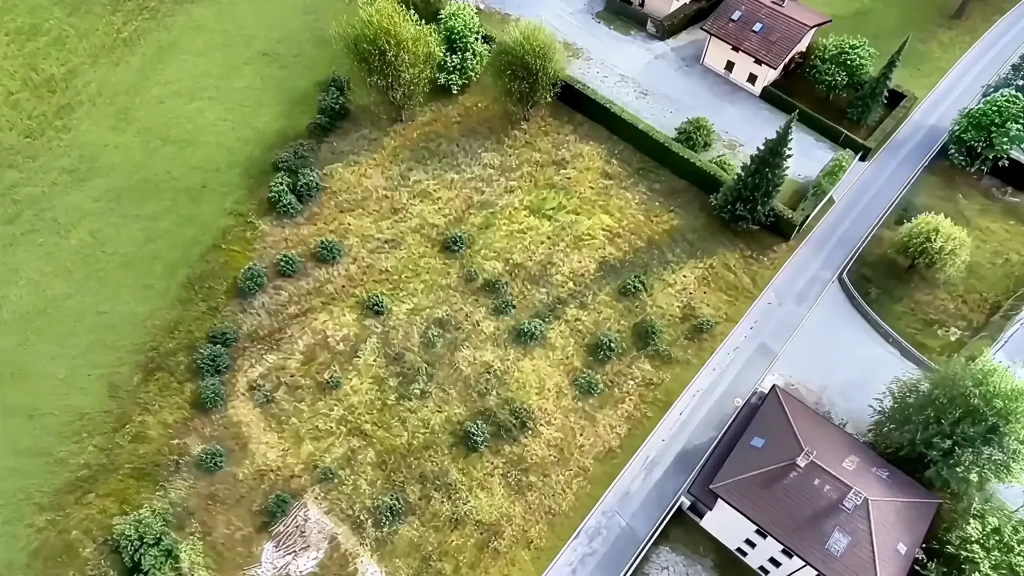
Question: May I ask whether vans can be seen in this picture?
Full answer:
No, no van can be seen from above.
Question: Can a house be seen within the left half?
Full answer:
No, within the left half there is no house.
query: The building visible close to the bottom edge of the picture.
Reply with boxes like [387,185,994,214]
[702,386,948,576]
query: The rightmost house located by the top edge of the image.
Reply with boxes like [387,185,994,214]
[701,0,826,95]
